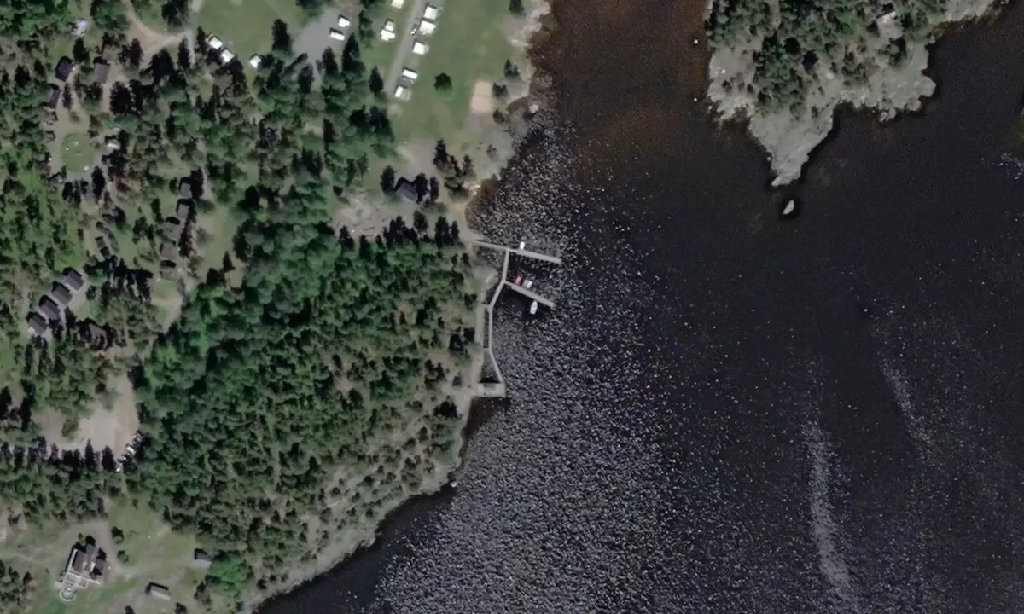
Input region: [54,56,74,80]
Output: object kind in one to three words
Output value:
house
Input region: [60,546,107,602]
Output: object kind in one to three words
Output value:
house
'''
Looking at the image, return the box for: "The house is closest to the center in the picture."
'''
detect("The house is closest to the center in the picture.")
[393,178,418,201]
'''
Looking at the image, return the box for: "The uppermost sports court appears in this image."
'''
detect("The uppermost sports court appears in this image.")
[471,80,492,114]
